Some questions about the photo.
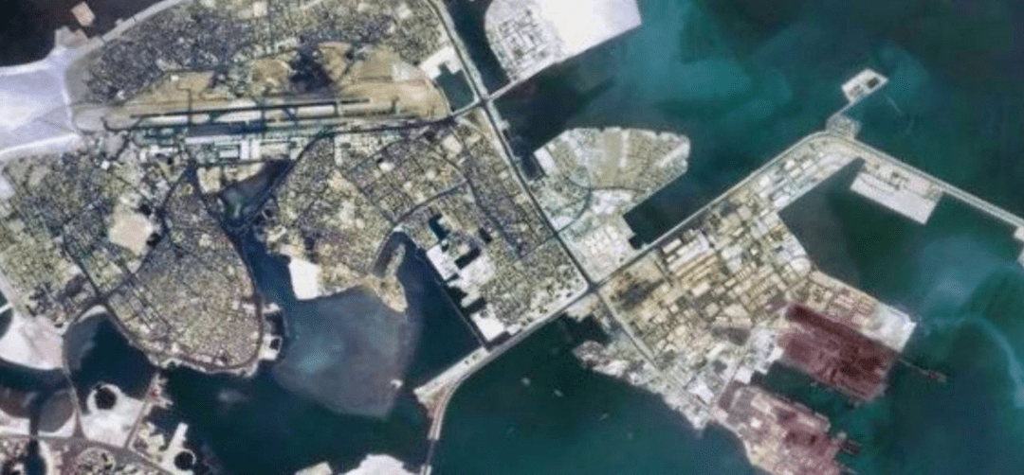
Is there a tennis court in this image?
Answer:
No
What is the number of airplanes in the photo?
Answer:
none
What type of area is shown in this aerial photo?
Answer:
port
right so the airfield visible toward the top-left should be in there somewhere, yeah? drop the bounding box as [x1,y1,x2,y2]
[68,40,449,163]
